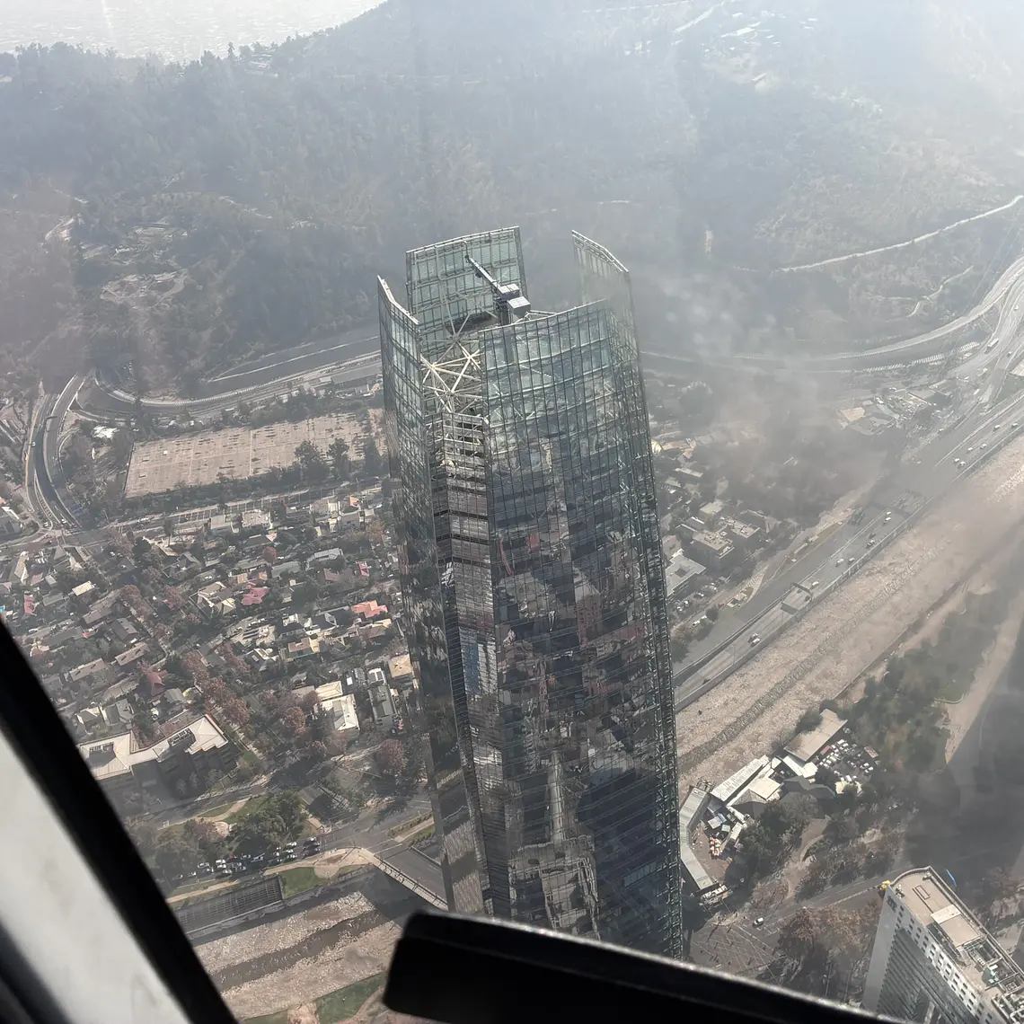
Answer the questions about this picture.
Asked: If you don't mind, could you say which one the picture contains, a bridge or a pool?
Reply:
bridge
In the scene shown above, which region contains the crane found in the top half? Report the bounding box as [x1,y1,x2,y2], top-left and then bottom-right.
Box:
[463,256,555,375]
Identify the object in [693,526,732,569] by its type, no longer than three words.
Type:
building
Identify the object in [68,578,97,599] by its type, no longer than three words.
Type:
house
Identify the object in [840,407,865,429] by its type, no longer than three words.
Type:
building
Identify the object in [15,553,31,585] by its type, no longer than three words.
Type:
house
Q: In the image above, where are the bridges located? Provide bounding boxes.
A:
[378,845,450,917]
